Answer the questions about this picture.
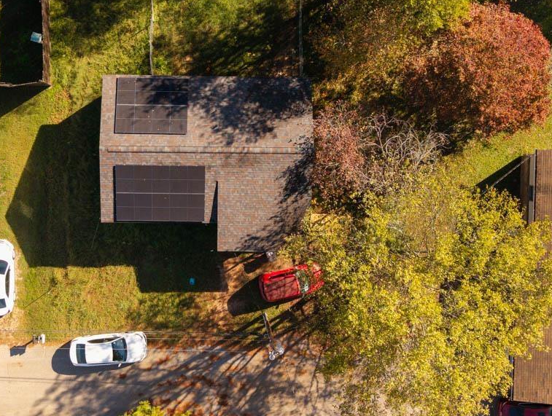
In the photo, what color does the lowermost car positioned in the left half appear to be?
white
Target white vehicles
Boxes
[69,330,148,366]
[0,238,18,317]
